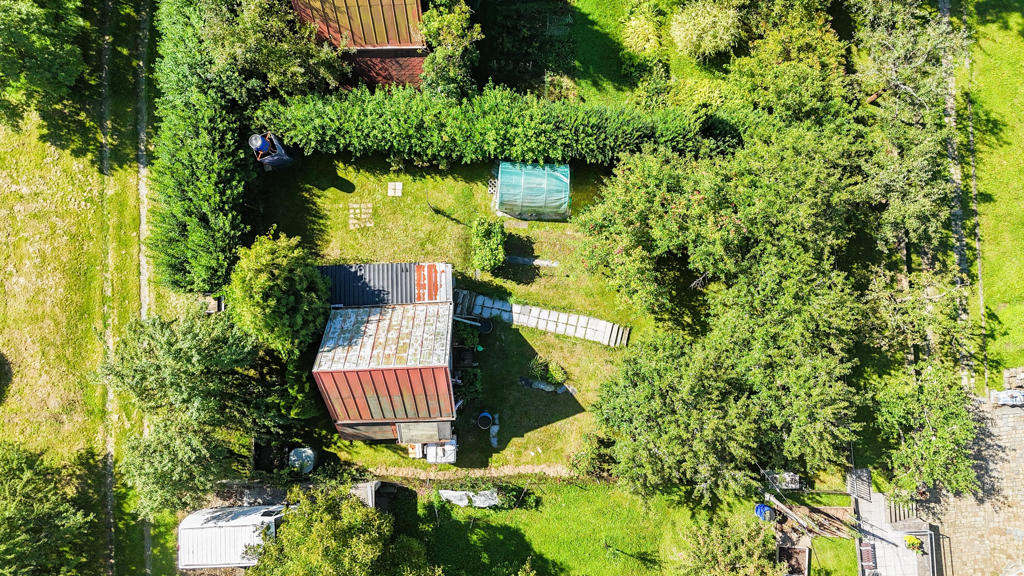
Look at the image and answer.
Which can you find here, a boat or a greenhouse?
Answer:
greenhouse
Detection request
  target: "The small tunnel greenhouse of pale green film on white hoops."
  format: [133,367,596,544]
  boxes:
[496,159,576,226]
